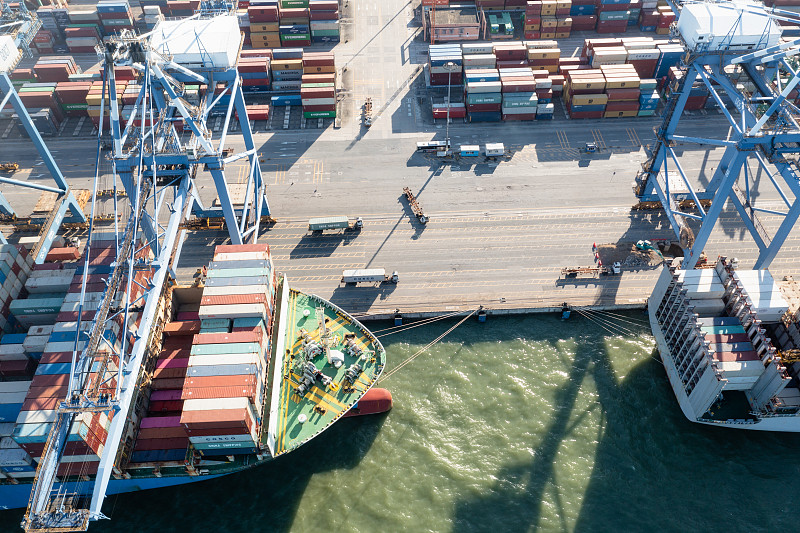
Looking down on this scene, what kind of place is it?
port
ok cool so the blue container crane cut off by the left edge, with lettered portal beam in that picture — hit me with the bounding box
[0,10,107,278]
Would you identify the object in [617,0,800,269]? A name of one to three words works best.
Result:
container crane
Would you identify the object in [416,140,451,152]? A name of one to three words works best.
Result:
vehicle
